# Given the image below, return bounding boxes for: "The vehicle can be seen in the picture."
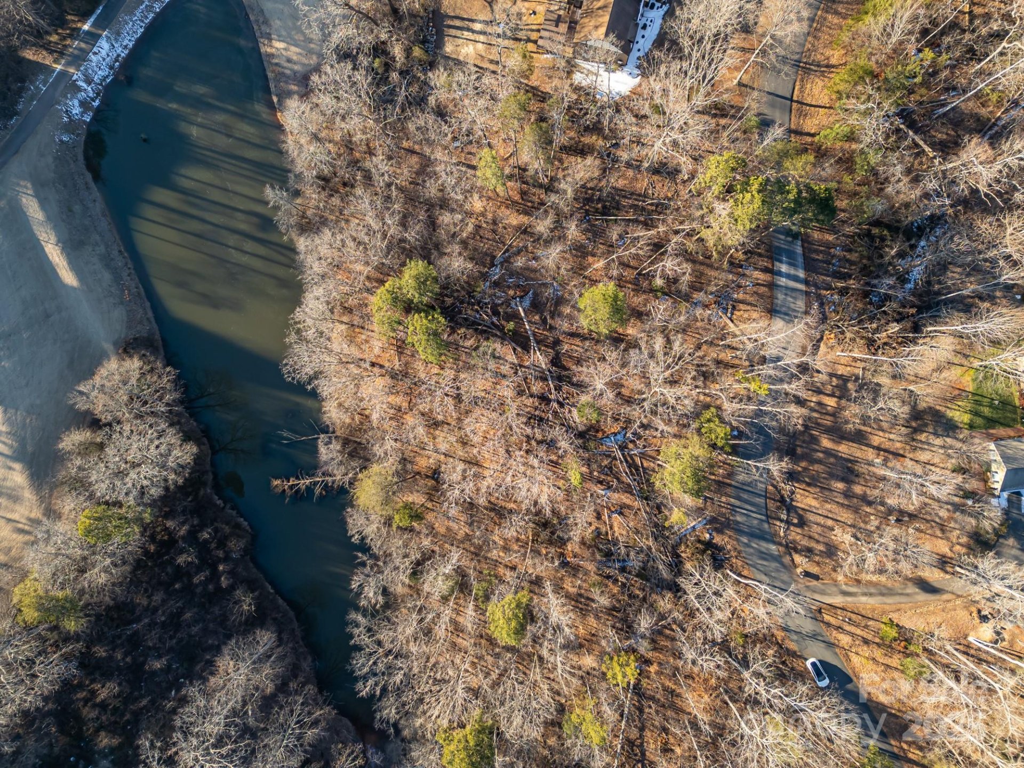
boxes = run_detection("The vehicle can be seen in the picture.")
[806,655,829,687]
